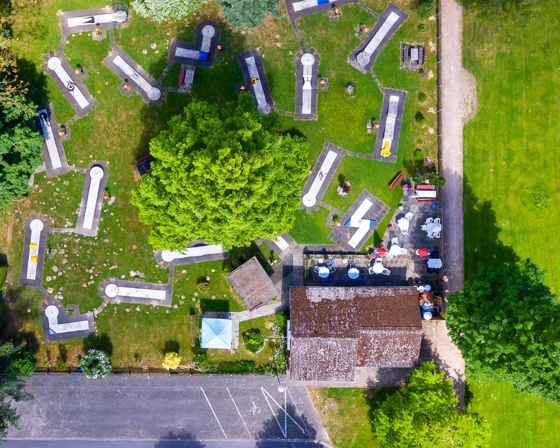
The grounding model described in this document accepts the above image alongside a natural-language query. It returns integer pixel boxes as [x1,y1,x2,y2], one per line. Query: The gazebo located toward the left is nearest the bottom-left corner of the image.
[201,313,232,349]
